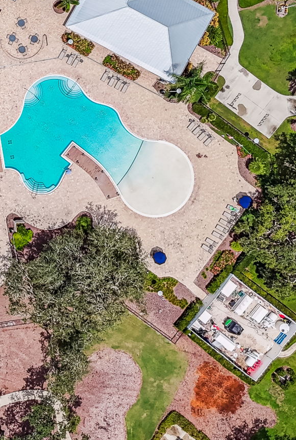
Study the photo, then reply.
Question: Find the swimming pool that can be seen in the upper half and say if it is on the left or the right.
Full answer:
The swimming pool that can be seen in the upper half is on the left side of the image.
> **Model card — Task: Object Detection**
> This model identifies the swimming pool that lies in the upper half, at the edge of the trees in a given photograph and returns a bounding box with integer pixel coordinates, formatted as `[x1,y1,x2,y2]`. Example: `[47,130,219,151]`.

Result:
[0,72,196,217]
